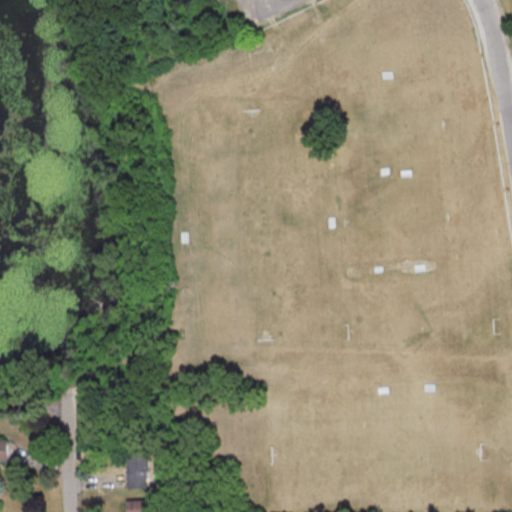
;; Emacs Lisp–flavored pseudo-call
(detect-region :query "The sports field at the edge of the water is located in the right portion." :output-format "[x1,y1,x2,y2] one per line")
[148,0,512,512]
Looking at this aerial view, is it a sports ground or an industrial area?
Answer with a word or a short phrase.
sports ground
